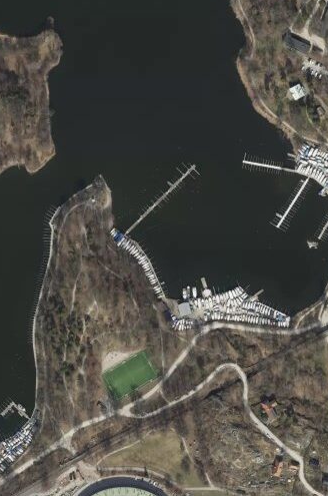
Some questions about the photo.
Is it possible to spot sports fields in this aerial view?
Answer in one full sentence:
Yes, the frame does contain a sports field.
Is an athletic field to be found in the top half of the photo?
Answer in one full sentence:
No, the scene shows no athletic field in the top half of the photo.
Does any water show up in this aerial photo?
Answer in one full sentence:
Yes, water can be seen from above here.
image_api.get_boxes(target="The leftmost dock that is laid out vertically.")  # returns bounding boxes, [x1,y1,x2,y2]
[30,208,61,414]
